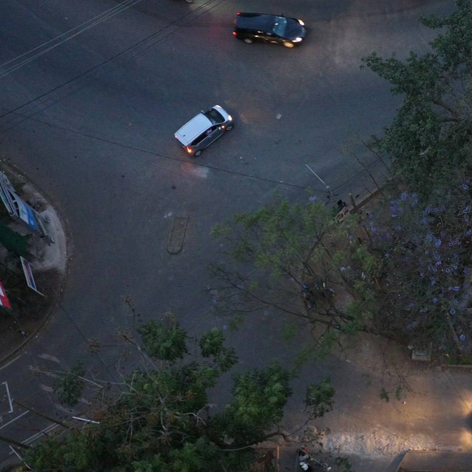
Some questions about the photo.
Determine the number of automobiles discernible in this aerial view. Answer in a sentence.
Altogether the scene contains 2 automobiles.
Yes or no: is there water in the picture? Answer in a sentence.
No, water can't be seen anywhere here.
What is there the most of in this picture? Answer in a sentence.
The largest share of the image is taken up by paved ground.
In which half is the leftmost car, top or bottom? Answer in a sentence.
The leftmost car sits in the top half of the picture.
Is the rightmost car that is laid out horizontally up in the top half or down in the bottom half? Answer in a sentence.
It is in the top half that the rightmost car that is laid out horizontally appears.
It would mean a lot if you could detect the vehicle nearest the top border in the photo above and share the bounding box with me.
[227,10,308,52]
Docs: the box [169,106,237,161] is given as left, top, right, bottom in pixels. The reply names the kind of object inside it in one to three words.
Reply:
car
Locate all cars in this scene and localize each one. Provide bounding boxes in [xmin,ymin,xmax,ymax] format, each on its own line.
[169,106,237,161]
[227,10,308,52]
